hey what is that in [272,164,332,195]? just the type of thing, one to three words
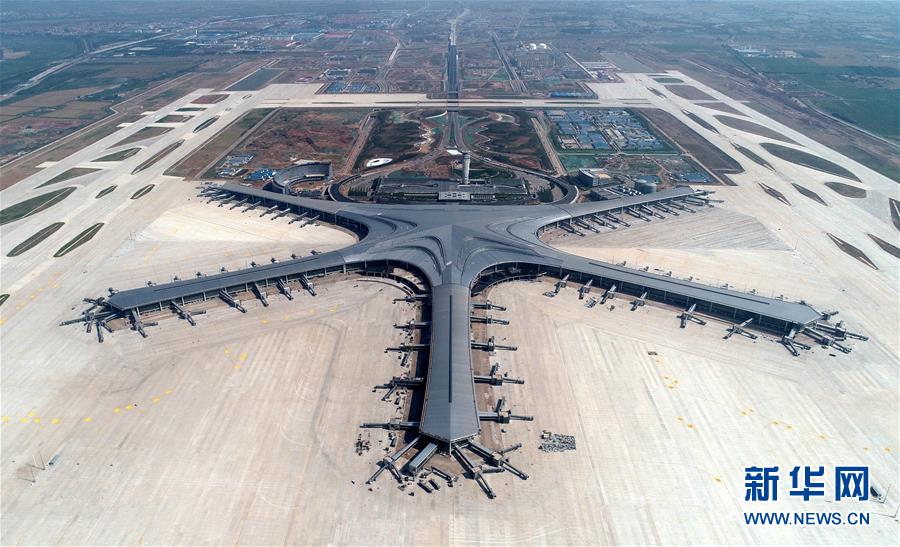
building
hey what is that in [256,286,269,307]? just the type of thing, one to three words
jet bridge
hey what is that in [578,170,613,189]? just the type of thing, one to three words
building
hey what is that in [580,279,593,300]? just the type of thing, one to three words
jet bridge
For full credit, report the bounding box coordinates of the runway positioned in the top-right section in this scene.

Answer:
[667,70,900,198]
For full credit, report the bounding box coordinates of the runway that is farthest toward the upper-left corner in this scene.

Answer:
[0,89,213,207]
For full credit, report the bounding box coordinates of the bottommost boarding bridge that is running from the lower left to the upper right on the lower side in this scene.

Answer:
[366,433,423,485]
